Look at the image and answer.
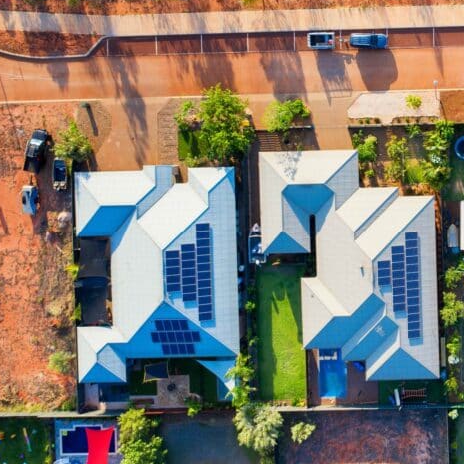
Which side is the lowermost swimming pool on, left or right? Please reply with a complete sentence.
You can find the lowermost swimming pool on the left side of the picture.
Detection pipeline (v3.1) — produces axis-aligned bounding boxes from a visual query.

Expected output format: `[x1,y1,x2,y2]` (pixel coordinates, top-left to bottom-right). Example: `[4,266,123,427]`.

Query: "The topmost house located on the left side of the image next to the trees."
[74,164,242,384]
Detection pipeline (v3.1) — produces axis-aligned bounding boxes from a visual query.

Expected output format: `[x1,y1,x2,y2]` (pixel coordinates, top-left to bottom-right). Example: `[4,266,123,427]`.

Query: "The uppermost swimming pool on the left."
[99,383,129,403]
